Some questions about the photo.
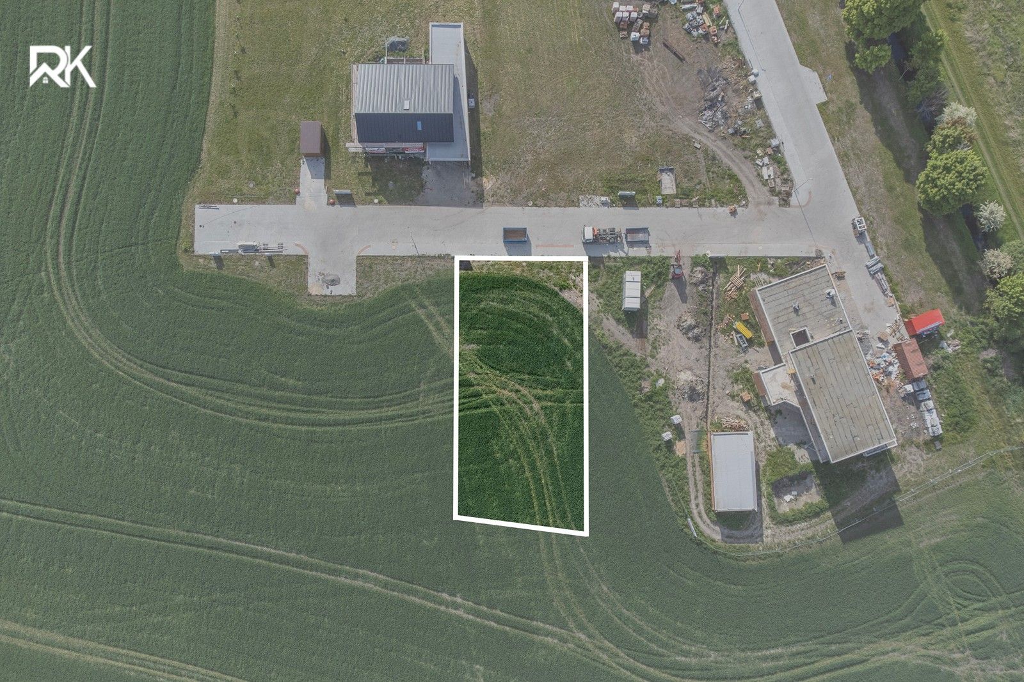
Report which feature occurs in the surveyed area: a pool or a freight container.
freight container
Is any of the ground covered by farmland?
Yes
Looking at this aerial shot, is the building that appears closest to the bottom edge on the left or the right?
right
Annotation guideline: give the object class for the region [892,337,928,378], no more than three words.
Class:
shipping container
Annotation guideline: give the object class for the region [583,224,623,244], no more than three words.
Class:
vehicle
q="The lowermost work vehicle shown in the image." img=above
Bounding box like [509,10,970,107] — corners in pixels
[671,255,683,281]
